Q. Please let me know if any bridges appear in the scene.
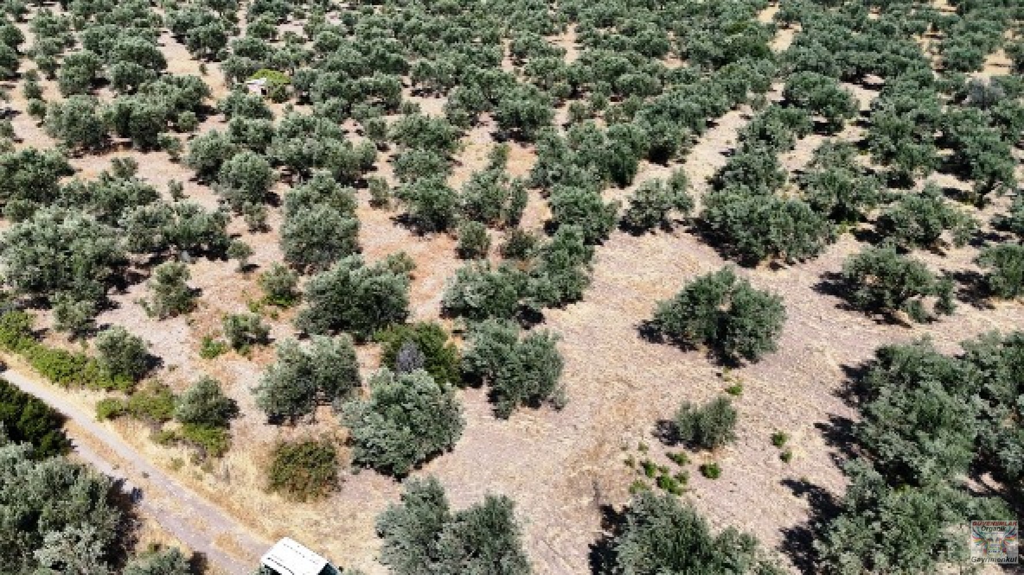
No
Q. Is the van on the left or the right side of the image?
left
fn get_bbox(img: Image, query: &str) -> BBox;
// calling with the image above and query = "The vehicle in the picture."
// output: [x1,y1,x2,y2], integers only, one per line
[260,538,341,575]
